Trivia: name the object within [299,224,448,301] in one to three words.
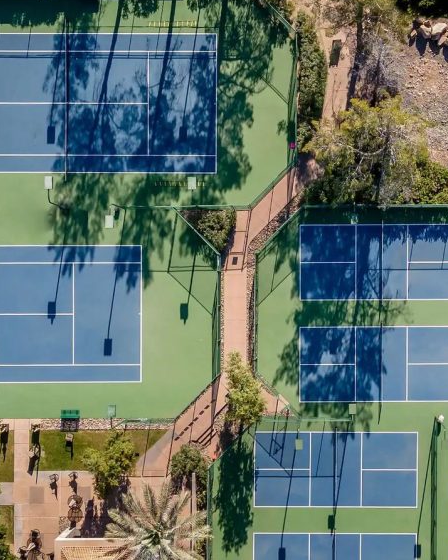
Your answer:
sports court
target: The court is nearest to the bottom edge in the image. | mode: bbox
[252,533,418,560]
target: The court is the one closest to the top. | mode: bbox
[0,33,217,174]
